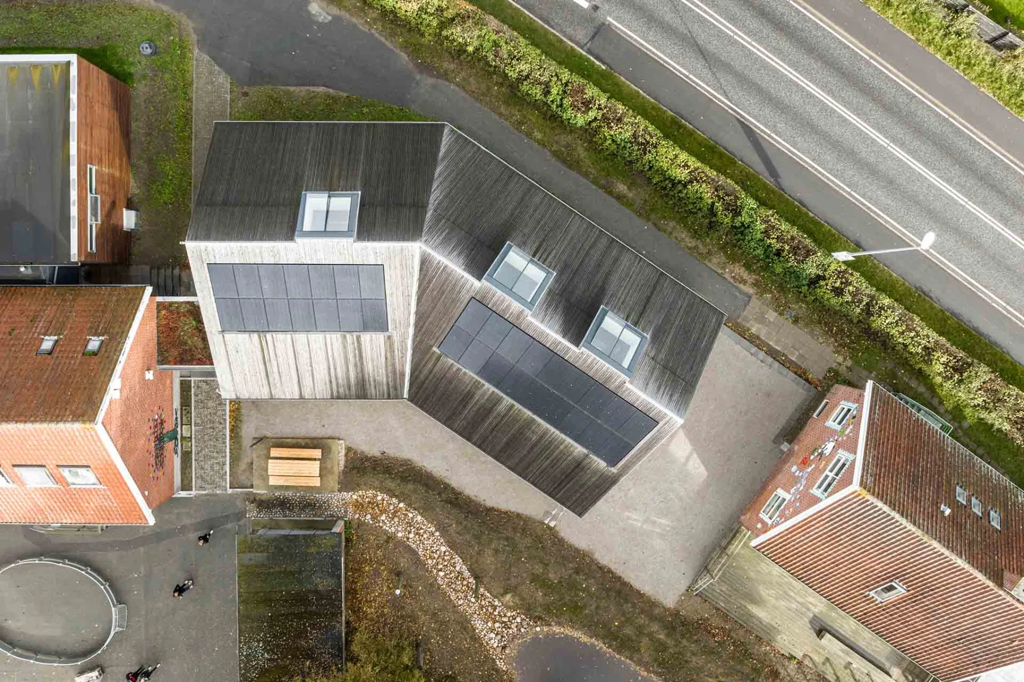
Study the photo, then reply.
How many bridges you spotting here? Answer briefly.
none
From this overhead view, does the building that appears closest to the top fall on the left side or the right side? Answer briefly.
left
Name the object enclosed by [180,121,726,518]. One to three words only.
building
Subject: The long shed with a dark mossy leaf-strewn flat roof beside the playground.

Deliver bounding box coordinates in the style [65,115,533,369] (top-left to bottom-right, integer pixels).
[237,516,348,682]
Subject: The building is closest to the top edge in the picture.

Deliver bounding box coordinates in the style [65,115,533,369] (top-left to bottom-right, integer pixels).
[0,54,132,267]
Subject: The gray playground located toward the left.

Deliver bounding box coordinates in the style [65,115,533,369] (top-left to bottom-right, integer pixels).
[0,493,249,682]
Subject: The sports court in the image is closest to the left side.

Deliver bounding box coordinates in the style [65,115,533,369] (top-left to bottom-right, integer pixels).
[0,555,120,666]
